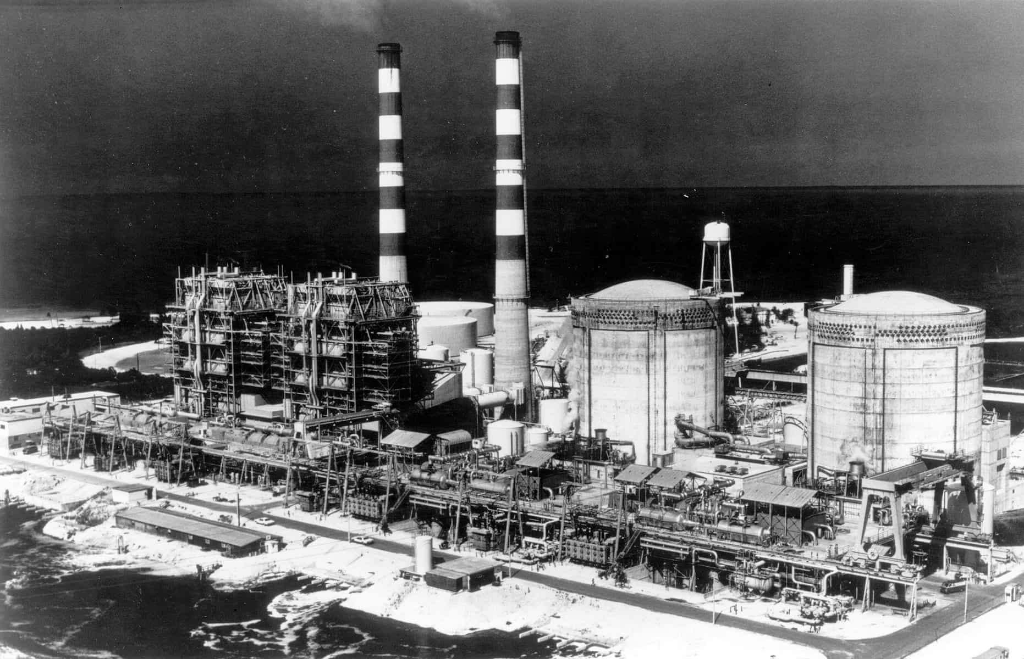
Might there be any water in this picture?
Yes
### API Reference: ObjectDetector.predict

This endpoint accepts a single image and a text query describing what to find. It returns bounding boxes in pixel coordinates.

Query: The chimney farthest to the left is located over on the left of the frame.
[372,42,411,322]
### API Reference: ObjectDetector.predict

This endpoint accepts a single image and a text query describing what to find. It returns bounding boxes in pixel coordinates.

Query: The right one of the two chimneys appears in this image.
[489,30,536,426]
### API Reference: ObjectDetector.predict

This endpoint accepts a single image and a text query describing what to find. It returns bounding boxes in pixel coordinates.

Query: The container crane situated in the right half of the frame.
[831,447,998,570]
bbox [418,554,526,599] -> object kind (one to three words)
building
